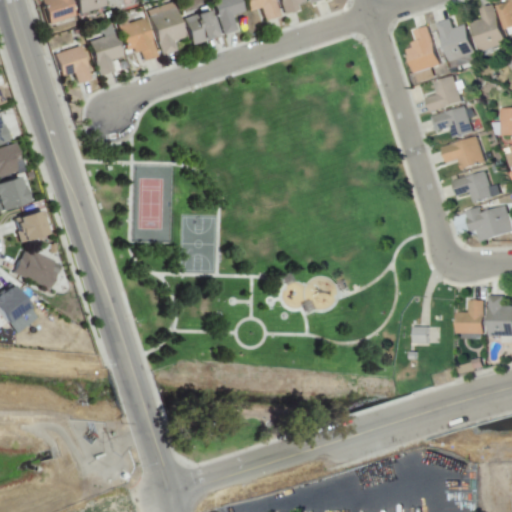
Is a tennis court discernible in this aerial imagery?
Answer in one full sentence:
Yes, there is a tennis court in the image.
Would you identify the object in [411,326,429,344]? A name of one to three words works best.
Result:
building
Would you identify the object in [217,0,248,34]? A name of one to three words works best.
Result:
house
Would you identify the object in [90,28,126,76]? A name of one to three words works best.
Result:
house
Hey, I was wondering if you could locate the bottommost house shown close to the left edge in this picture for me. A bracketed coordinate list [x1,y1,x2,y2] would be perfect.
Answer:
[0,289,36,329]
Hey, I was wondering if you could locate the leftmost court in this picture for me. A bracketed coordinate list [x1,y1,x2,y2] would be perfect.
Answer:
[133,164,172,244]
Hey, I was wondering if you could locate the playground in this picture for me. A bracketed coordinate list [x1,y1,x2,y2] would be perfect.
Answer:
[278,274,340,314]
